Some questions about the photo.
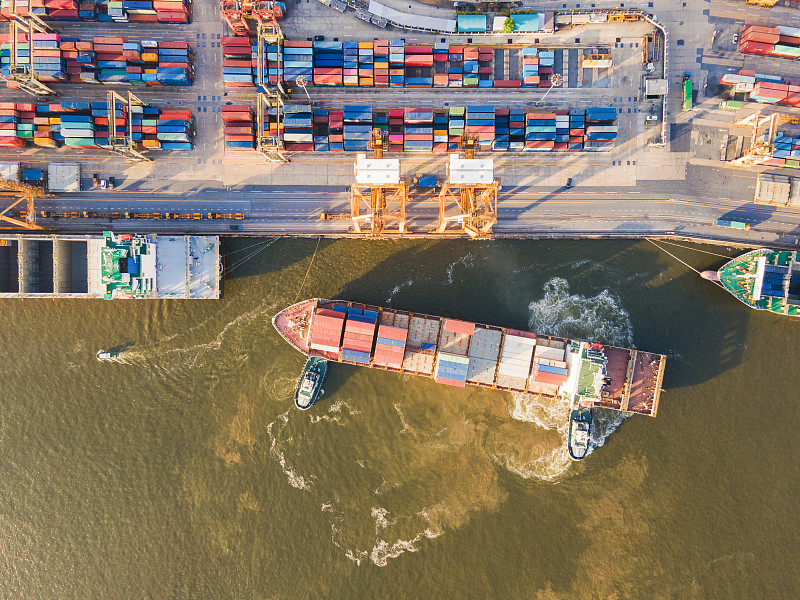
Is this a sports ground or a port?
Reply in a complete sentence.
The picture captures a port.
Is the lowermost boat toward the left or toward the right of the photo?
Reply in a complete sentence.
The lowermost boat is on the right side of the image.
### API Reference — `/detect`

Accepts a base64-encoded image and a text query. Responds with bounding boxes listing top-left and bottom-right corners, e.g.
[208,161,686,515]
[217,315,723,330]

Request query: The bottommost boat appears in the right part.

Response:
[568,404,593,462]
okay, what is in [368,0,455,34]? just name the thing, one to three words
building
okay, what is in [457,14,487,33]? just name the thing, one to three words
shed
